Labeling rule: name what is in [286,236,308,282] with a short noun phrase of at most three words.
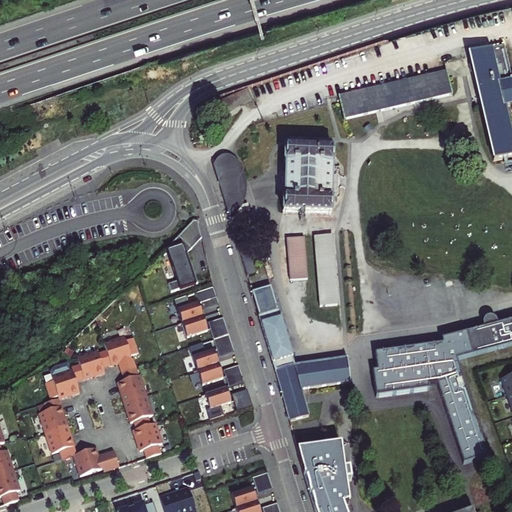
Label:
building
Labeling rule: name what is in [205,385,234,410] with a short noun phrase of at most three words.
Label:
house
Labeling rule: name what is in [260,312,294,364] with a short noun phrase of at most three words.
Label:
building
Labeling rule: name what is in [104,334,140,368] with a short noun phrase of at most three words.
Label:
house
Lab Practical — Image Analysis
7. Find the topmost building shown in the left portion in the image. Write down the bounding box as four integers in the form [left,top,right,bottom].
[178,220,202,254]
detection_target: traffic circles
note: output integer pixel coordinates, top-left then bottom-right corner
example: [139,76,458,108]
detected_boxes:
[132,189,174,230]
